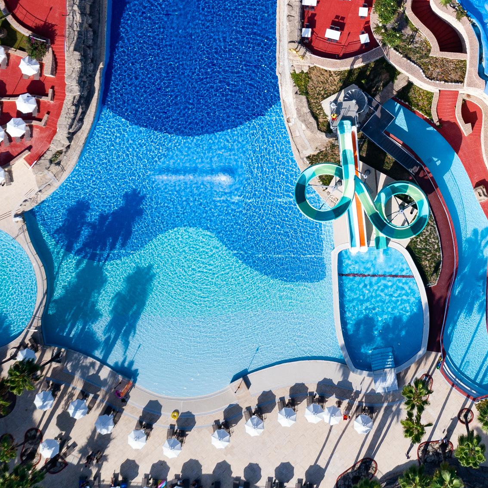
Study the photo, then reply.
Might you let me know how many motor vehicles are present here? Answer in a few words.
zero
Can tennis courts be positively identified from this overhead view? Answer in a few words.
No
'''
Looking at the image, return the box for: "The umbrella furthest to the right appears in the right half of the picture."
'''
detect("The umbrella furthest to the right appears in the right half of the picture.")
[353,414,373,434]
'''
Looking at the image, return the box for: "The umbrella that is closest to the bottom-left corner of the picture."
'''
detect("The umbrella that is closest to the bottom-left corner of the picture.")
[39,437,60,458]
